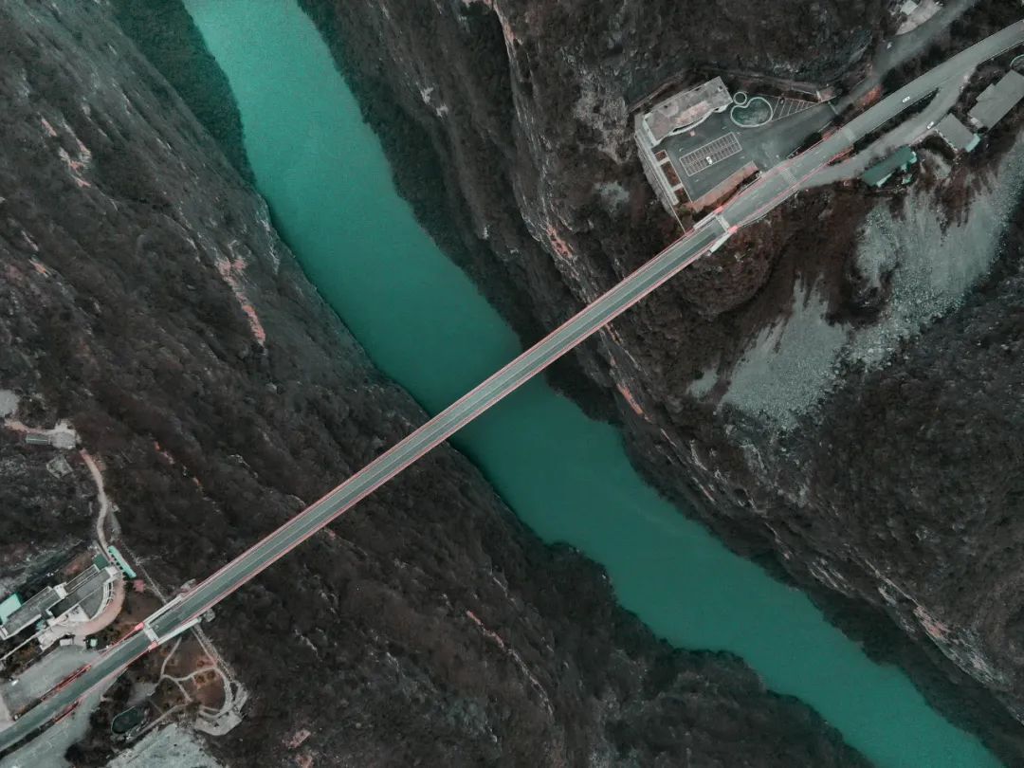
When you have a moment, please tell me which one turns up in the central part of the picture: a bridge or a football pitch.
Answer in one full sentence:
The one visible in the central part of the picture is a bridge.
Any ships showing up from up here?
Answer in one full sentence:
No, there's no ship here.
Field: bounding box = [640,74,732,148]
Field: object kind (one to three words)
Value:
building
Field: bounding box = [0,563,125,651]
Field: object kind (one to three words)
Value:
building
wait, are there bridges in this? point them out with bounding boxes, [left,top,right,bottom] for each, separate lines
[50,151,832,714]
